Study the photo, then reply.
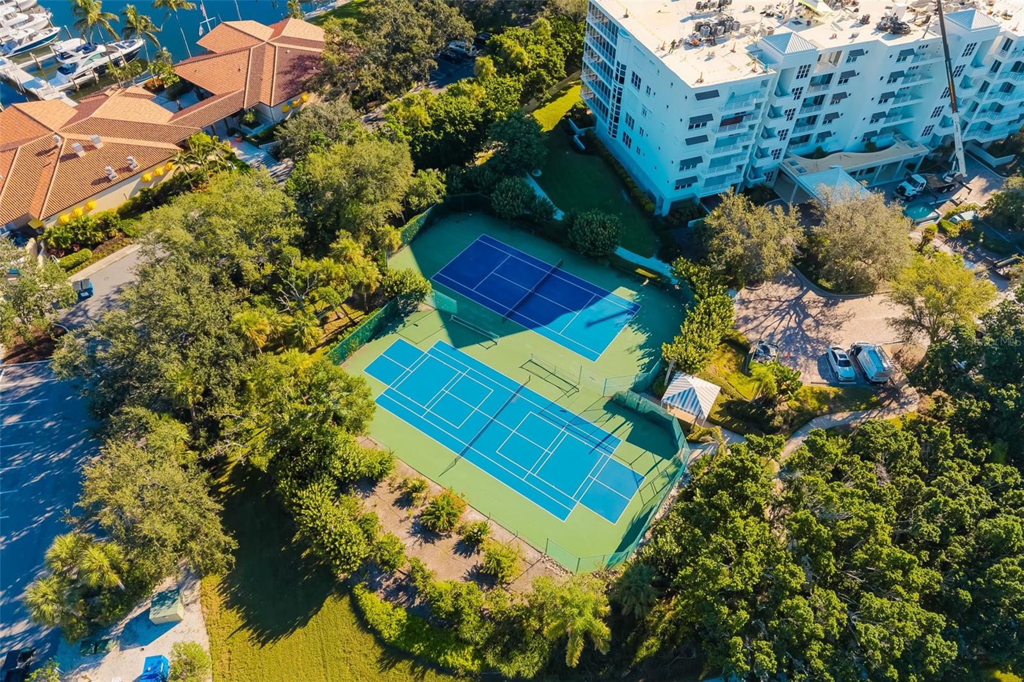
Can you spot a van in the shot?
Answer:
Yes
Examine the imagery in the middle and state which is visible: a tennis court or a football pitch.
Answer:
tennis court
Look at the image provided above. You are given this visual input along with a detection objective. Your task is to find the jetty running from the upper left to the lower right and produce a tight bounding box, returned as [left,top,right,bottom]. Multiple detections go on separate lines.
[0,54,82,109]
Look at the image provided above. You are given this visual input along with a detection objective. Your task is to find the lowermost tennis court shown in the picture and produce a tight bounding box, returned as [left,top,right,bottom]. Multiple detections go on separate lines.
[332,305,683,573]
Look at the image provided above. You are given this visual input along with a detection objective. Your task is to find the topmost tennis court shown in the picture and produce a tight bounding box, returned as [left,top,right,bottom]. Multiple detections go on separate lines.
[389,210,684,398]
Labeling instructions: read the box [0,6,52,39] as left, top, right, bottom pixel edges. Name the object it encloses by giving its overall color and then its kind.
white boat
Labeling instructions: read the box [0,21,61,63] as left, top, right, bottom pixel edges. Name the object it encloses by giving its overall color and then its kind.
white boat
